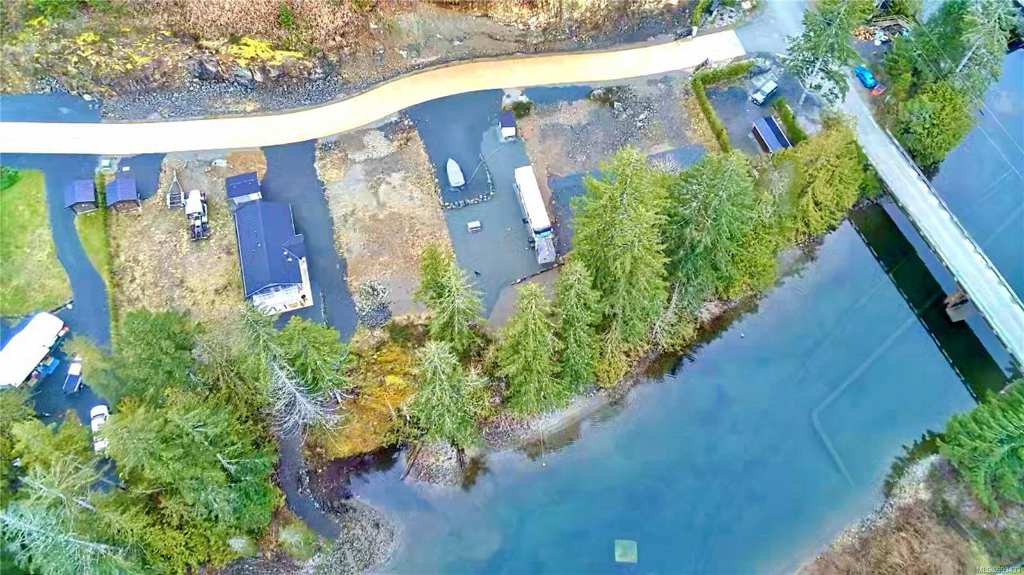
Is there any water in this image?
Yes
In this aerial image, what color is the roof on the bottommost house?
blue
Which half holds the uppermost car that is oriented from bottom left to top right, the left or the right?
right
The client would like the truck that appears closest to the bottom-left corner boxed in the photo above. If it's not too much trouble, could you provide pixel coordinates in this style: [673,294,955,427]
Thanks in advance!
[90,399,116,453]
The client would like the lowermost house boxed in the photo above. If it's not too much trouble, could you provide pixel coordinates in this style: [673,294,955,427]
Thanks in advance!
[236,204,316,322]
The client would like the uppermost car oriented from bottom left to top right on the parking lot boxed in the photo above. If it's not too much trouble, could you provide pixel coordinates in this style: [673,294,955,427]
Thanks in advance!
[750,78,780,108]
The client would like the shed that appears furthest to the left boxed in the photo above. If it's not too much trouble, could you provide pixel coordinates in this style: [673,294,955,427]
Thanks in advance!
[67,181,101,217]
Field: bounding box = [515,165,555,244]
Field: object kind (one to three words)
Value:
camper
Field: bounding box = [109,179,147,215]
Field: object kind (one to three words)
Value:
shed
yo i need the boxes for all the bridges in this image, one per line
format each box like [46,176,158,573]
[853,132,1024,375]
